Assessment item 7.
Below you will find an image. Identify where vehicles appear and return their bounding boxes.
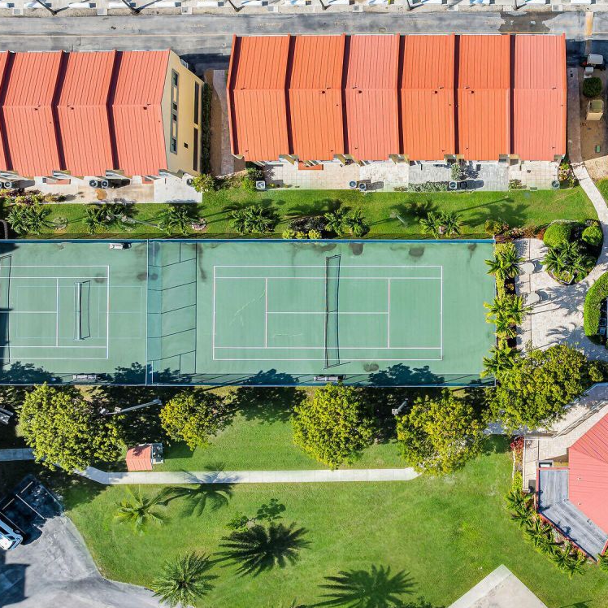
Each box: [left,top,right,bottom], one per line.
[583,49,606,67]
[0,524,20,554]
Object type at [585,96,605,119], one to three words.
shed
